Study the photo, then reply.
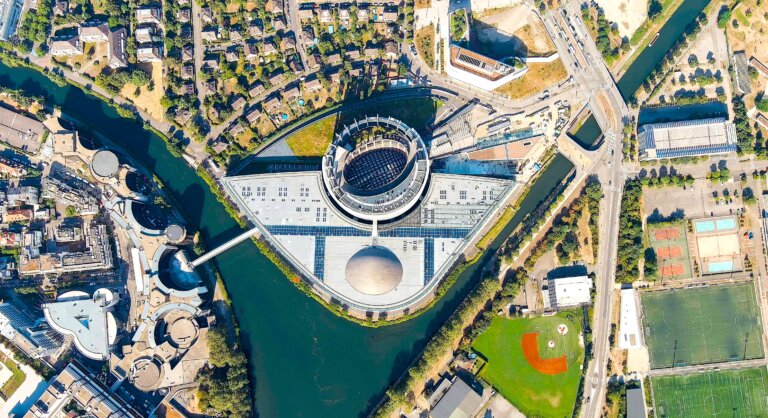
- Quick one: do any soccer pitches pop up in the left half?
No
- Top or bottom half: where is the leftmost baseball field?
bottom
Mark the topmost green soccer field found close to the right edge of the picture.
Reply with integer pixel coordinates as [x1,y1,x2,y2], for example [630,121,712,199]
[641,280,766,368]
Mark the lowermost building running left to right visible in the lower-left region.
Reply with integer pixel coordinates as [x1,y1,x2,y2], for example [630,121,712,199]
[22,357,153,418]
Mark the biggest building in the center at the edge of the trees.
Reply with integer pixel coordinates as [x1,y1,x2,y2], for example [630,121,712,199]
[220,112,514,312]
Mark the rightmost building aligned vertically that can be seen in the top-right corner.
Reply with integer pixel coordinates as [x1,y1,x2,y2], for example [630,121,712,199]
[730,50,750,94]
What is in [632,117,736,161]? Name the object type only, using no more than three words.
building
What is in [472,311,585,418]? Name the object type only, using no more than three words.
baseball field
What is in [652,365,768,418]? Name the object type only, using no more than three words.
soccer field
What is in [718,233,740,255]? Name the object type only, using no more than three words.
sports court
